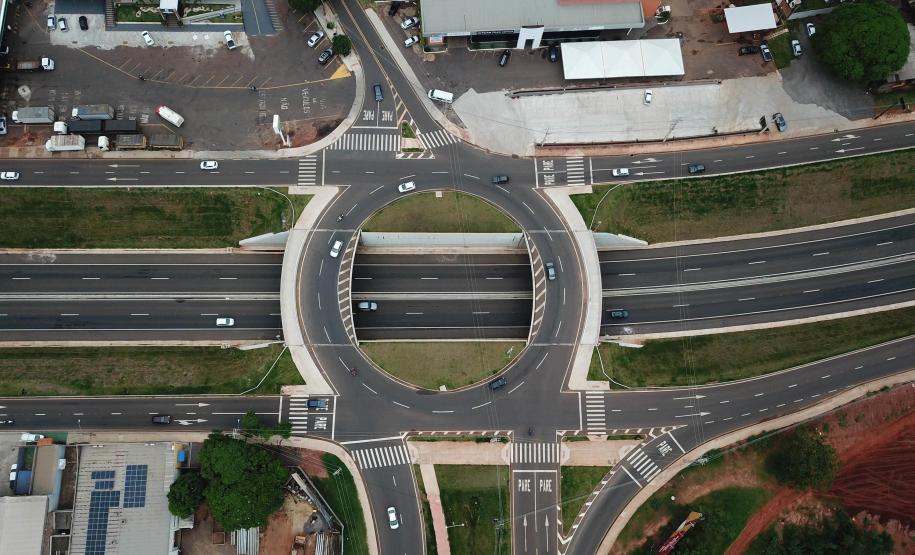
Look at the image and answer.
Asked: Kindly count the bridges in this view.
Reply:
two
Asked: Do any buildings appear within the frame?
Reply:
Yes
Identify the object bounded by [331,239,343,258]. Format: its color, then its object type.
white vehicle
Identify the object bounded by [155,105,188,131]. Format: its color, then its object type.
white truck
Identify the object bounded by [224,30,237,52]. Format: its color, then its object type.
white vehicle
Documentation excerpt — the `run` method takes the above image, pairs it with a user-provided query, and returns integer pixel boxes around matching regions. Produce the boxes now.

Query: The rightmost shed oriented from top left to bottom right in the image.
[292,473,334,526]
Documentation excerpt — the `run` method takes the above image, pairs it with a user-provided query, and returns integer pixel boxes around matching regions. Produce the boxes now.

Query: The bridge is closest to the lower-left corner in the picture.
[280,225,361,349]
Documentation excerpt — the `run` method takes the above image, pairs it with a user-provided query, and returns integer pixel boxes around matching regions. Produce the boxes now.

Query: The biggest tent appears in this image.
[559,38,684,86]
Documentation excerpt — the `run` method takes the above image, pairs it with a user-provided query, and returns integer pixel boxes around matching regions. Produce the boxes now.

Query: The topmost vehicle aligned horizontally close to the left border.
[8,58,57,73]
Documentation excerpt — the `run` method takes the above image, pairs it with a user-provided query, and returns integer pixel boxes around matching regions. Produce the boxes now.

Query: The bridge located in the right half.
[525,227,603,349]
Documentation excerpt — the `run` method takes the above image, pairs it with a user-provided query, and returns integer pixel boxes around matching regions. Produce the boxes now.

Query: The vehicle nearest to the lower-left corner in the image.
[7,463,21,490]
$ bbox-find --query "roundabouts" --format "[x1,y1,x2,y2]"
[285,110,600,450]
